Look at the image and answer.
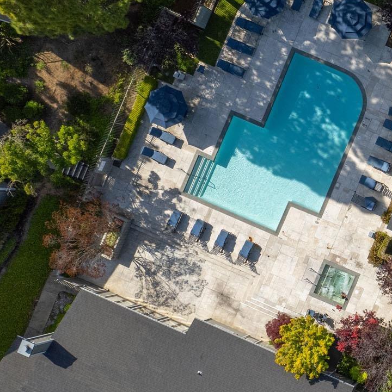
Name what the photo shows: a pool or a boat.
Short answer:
pool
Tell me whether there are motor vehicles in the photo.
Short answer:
No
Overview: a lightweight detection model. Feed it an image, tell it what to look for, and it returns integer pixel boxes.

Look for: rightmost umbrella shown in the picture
[331,0,373,40]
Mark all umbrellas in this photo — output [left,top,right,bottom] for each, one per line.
[331,0,373,40]
[146,86,188,127]
[246,0,287,19]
